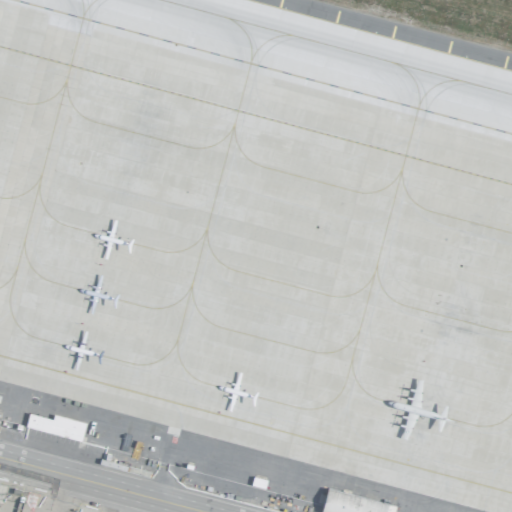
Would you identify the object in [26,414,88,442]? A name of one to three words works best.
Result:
building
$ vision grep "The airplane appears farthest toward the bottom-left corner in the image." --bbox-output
[66,332,104,371]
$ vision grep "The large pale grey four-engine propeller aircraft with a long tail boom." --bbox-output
[388,380,456,440]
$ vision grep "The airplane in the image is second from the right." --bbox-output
[220,374,258,413]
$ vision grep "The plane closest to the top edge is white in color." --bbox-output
[95,220,133,260]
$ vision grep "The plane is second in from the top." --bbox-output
[81,276,118,314]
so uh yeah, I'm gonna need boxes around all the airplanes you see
[95,220,133,260]
[220,374,258,413]
[66,332,104,371]
[388,380,456,440]
[81,276,118,314]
